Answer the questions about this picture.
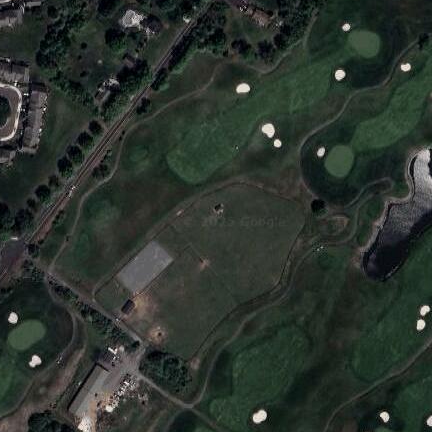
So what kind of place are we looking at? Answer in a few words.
golf course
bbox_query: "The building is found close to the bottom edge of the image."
[68,364,109,418]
